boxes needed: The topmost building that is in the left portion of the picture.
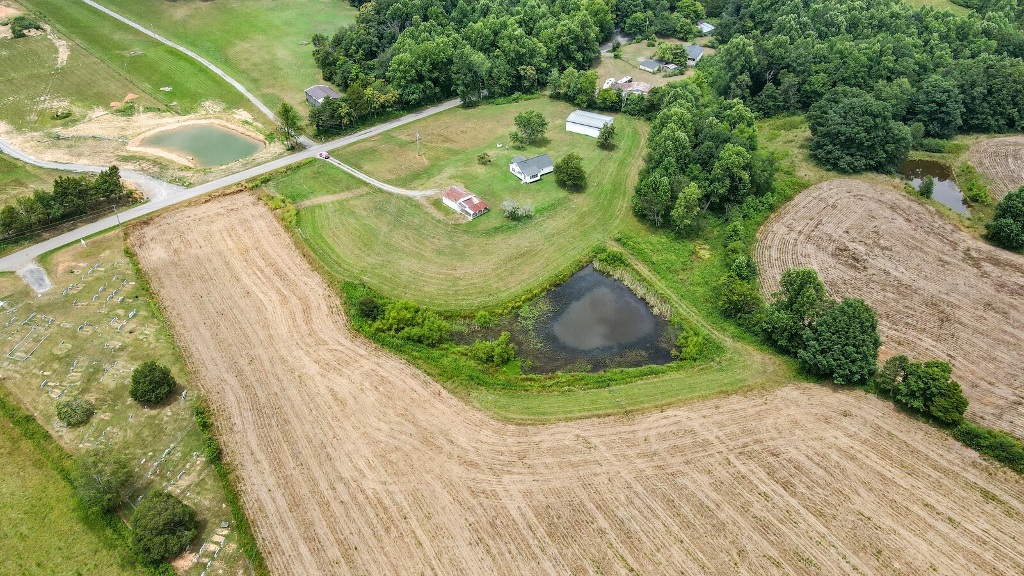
[303,84,340,110]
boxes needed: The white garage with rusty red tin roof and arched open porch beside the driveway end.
[438,184,492,220]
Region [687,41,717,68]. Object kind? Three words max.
house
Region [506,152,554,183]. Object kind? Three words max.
house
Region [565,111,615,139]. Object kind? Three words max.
barn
